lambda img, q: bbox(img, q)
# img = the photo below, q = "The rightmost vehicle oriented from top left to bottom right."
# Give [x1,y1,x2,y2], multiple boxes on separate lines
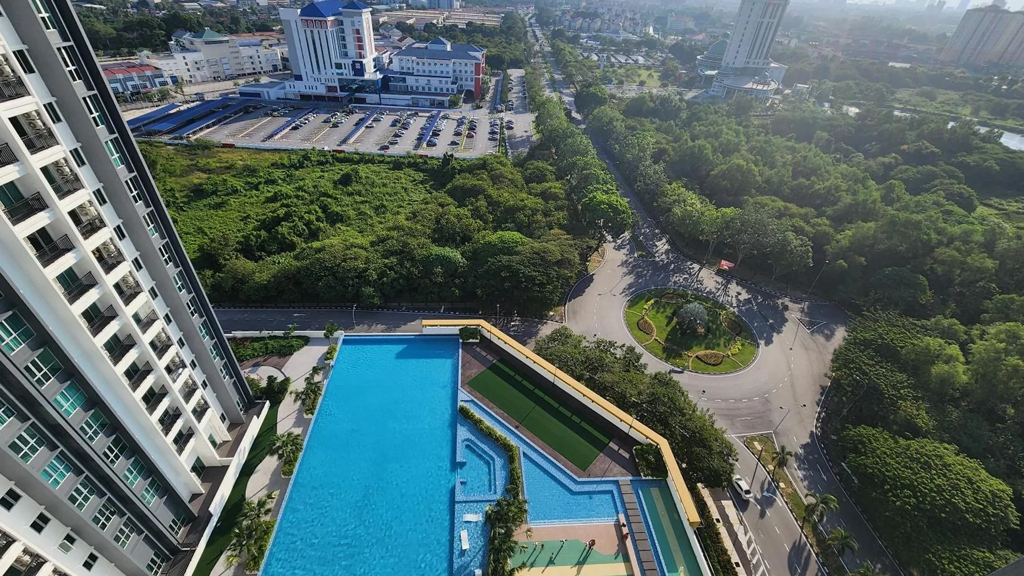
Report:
[732,475,757,501]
